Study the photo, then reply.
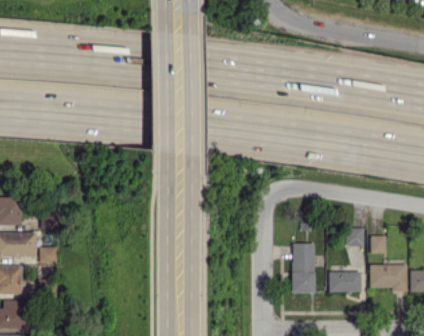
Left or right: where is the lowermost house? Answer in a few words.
left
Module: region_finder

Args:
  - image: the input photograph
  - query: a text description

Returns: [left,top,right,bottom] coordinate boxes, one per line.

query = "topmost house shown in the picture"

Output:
[0,196,22,224]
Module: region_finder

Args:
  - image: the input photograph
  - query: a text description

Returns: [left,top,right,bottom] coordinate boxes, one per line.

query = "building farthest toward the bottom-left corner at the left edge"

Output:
[0,300,26,328]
